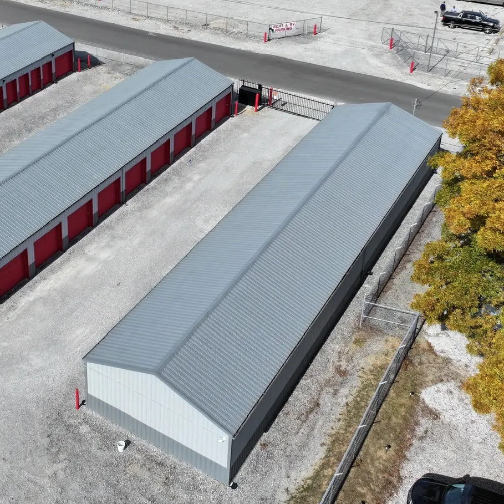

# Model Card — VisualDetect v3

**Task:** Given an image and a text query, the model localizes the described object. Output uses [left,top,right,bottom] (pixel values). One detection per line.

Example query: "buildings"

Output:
[0,20,77,115]
[81,102,442,484]
[0,57,235,308]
